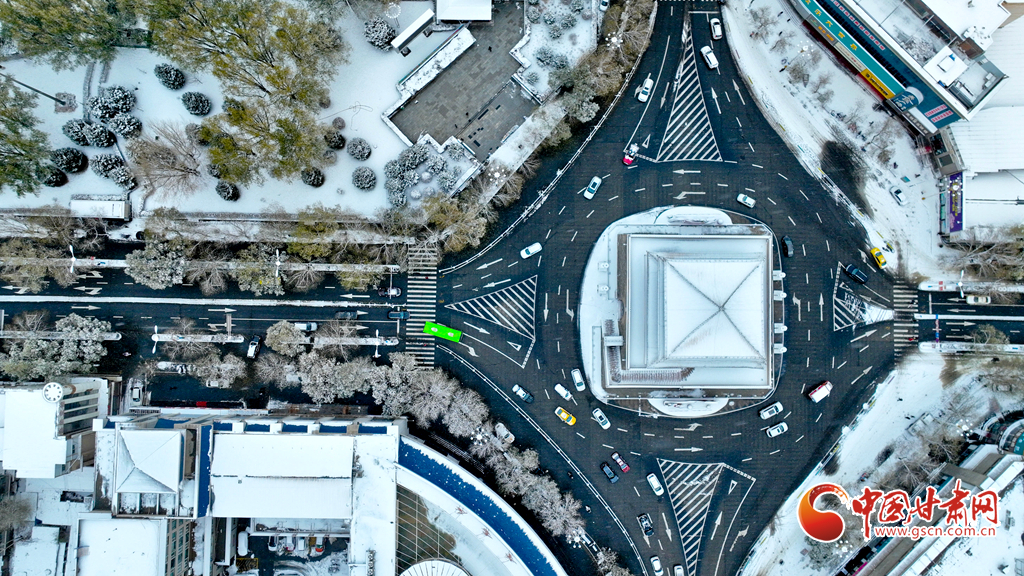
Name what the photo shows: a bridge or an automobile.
automobile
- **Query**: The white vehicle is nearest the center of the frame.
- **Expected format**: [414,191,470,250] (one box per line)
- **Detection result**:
[520,241,542,259]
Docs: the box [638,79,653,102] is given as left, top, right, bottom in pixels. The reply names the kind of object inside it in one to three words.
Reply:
car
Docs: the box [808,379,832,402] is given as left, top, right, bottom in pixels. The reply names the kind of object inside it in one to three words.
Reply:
vehicle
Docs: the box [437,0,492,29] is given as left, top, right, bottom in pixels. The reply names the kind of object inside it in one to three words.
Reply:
building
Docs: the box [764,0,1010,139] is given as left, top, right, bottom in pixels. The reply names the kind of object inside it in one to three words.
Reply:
building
